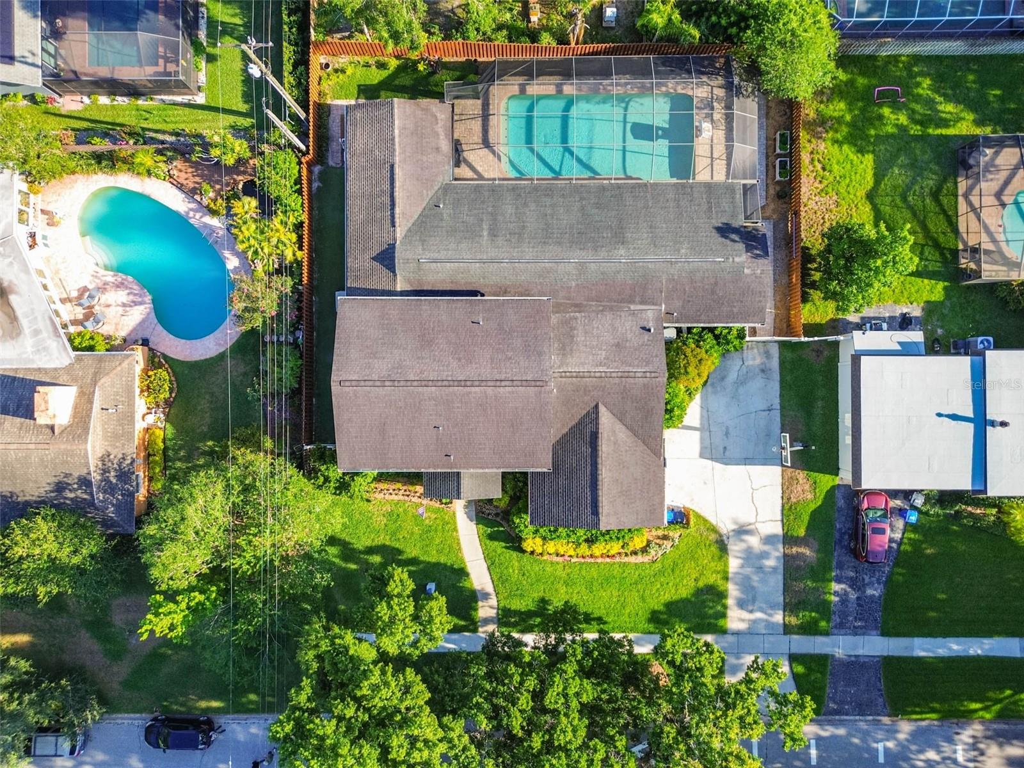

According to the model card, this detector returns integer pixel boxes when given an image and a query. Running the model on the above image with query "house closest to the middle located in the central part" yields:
[331,97,774,530]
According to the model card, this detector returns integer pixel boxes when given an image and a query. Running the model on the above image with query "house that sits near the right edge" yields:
[838,331,1024,496]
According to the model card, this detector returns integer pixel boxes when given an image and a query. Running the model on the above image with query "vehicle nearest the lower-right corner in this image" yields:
[857,491,898,564]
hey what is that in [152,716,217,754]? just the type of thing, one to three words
car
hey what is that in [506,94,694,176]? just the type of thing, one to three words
swimming pool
